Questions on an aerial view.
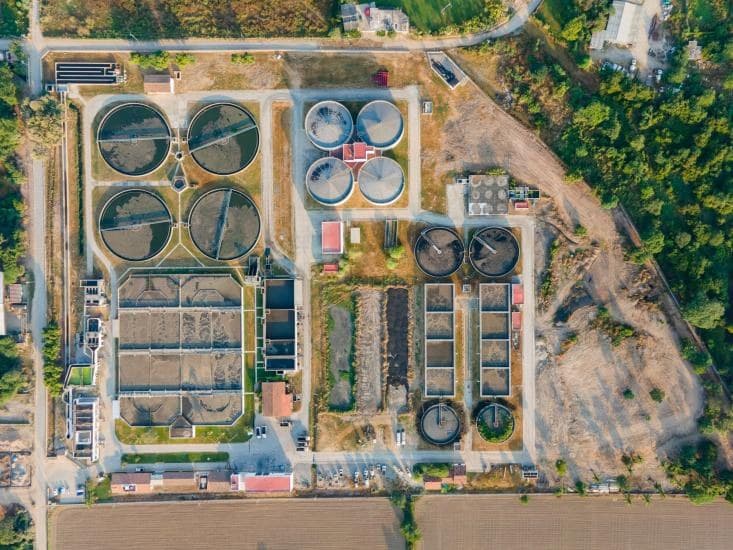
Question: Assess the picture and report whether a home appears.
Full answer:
Yes, a home is visible in the scene.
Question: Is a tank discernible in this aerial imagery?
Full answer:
Yes, you can see a tank in this photo.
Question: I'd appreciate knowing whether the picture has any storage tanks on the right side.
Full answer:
Yes, a storage tank can be seen on the right side.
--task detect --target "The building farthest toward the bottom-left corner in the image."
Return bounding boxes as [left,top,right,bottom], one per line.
[0,450,34,487]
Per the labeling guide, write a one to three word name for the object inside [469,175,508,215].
building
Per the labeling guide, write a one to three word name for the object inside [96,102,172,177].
storage tank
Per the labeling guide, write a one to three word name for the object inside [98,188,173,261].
storage tank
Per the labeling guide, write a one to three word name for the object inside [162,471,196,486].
house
